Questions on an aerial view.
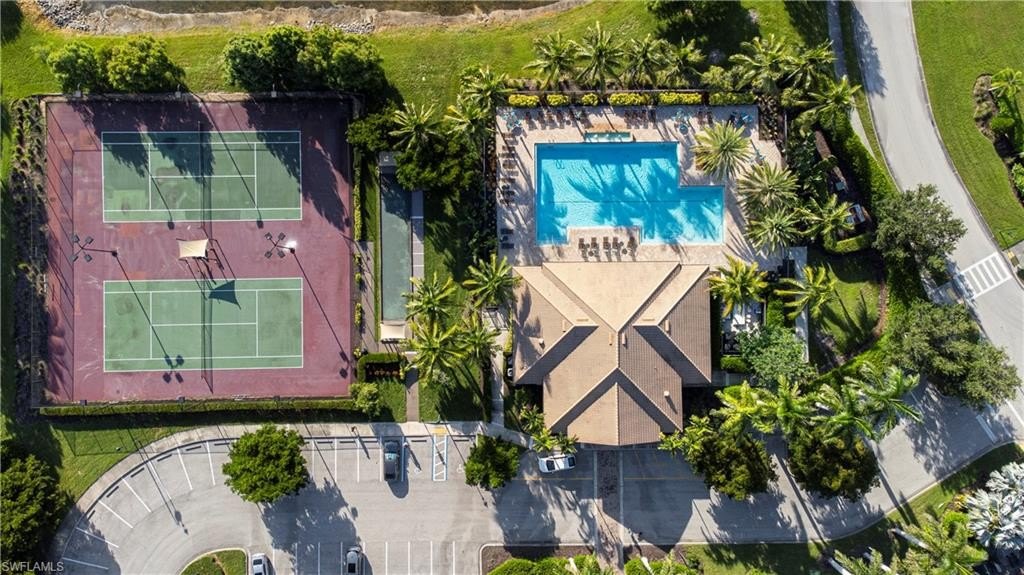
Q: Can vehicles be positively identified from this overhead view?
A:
Yes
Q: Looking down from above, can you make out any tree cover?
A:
Yes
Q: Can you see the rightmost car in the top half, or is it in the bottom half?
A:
bottom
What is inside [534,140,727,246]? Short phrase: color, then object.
blue swimming pool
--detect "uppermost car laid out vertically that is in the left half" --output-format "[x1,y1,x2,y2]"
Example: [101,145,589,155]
[382,439,401,480]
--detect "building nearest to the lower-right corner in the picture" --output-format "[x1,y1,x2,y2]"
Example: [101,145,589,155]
[513,261,712,447]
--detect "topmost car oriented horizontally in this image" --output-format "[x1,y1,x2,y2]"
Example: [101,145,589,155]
[537,454,576,475]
